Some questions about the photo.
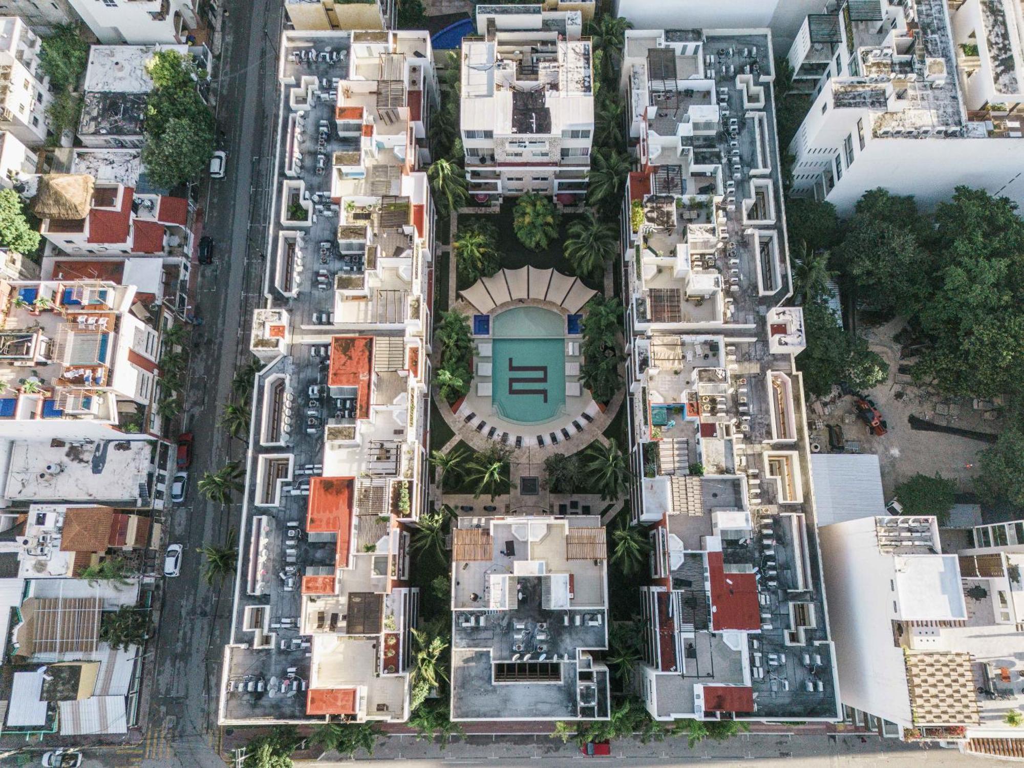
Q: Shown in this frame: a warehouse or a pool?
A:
pool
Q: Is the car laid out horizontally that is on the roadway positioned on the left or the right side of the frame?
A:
left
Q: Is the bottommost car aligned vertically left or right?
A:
left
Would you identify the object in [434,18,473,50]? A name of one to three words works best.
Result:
swimming pool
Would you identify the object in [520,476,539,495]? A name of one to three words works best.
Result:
fountain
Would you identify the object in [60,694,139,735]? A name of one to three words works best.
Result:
shed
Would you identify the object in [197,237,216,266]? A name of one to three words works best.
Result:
car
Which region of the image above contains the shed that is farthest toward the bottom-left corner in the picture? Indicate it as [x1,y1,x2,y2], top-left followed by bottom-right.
[9,670,65,726]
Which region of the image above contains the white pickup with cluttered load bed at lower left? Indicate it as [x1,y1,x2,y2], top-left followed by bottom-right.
[42,748,86,768]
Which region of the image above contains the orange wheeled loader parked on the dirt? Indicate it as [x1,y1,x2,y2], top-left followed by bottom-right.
[847,394,893,447]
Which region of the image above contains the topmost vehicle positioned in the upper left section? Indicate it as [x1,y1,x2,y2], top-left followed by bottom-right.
[210,153,227,179]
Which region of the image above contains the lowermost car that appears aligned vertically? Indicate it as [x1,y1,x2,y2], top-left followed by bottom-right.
[165,542,186,579]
